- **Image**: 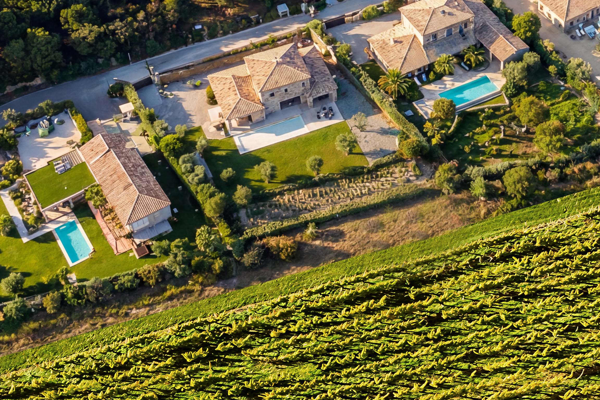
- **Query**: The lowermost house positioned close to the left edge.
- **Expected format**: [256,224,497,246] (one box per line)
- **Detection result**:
[23,129,172,236]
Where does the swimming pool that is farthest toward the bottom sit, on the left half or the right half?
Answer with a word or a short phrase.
left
